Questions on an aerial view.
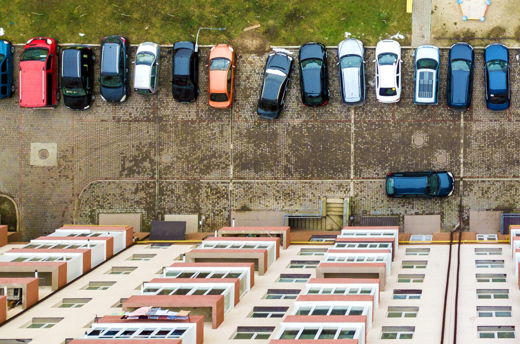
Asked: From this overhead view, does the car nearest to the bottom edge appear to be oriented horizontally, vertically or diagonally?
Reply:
horizontally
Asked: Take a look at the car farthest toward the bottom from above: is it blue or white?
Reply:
blue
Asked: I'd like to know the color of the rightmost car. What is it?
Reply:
blue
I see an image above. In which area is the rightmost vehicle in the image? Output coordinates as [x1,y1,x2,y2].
[481,44,512,111]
